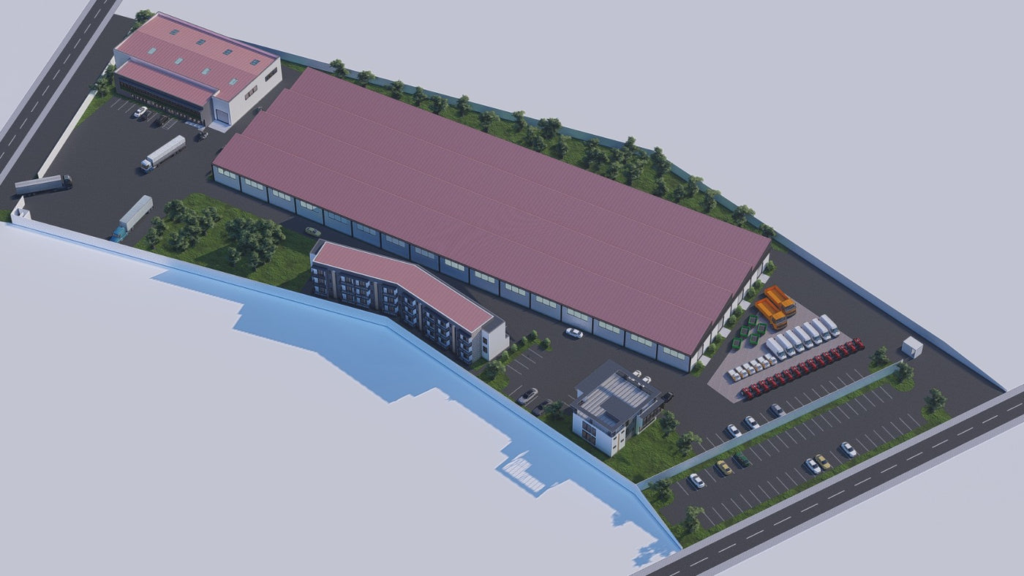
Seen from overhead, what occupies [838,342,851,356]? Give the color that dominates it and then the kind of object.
red vehicle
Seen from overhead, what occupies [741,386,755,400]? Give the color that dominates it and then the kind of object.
red work vehicle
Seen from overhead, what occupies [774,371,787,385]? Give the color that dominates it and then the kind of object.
red vehicle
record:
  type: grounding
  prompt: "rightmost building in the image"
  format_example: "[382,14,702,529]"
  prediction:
[901,336,923,358]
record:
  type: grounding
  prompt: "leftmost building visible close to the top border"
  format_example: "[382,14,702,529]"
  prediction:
[113,11,281,127]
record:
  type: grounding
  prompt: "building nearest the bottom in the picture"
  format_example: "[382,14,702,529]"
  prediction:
[571,360,665,457]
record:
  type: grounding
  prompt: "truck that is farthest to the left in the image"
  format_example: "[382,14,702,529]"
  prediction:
[15,176,73,199]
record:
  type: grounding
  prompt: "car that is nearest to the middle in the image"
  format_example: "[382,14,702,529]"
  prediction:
[564,328,584,340]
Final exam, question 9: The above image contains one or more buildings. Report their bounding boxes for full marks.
[901,336,923,358]
[211,66,772,372]
[309,238,509,366]
[15,206,38,220]
[571,360,665,457]
[113,11,281,127]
